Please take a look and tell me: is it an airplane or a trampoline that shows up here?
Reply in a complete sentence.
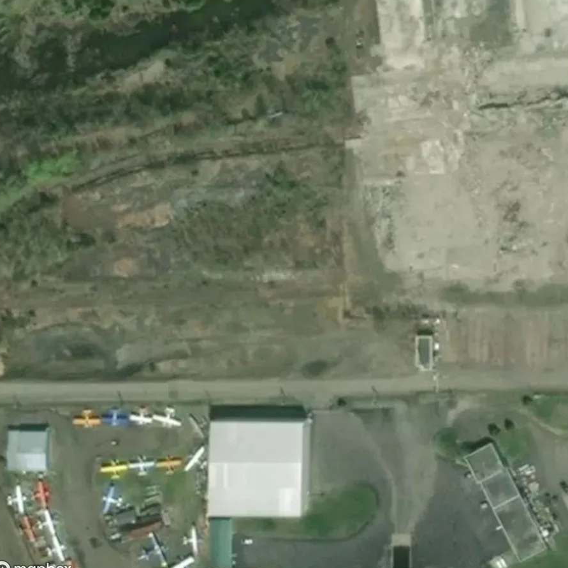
There is an airplane in the scene.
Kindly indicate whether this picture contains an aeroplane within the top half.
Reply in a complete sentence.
No, I can find no aeroplane within the top half.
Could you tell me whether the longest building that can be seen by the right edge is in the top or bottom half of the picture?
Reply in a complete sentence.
It is in the bottom half that the longest building that can be seen by the right edge appears.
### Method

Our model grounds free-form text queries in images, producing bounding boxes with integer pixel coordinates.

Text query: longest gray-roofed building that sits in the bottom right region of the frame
[465,444,550,561]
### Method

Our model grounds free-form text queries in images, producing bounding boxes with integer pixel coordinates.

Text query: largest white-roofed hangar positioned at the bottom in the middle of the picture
[208,421,309,517]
